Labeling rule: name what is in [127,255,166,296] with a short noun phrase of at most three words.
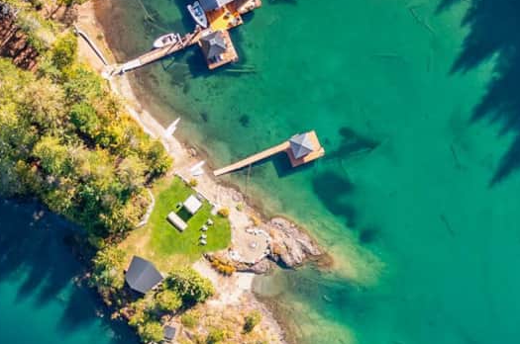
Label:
building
